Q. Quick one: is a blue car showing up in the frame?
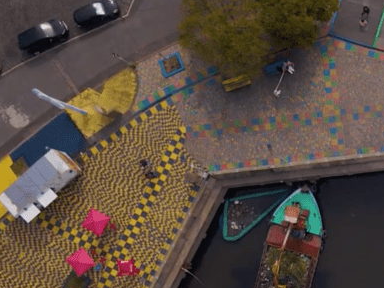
No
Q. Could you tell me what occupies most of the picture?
paved ground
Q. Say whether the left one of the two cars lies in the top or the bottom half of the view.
top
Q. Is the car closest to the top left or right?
left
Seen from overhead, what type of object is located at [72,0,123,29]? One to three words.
car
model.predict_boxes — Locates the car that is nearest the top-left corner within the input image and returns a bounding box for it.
[14,19,71,55]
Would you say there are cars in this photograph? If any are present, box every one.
[14,19,71,55]
[72,0,123,29]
